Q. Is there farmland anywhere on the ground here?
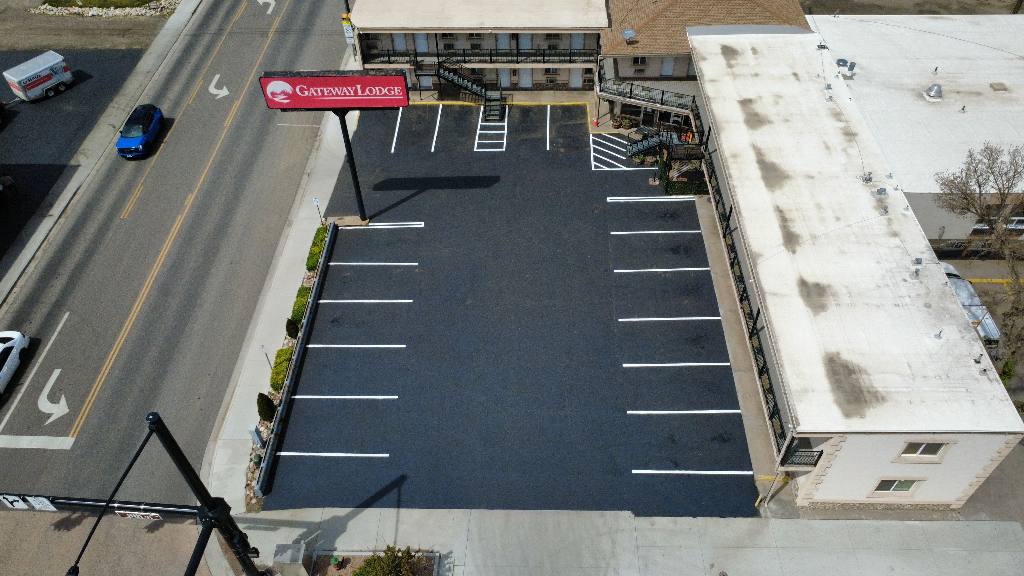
No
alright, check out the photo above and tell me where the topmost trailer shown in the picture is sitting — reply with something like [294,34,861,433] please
[3,53,71,104]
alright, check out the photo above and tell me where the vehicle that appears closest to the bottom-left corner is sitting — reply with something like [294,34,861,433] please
[0,334,27,401]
